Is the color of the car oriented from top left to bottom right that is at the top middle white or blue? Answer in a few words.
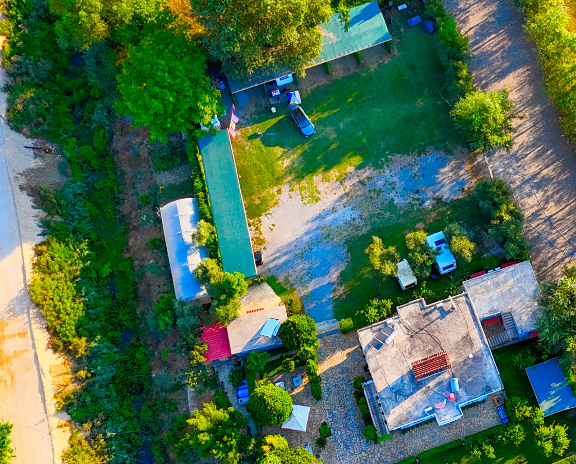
blue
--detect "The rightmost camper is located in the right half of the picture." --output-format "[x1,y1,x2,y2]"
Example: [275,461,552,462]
[427,229,458,283]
